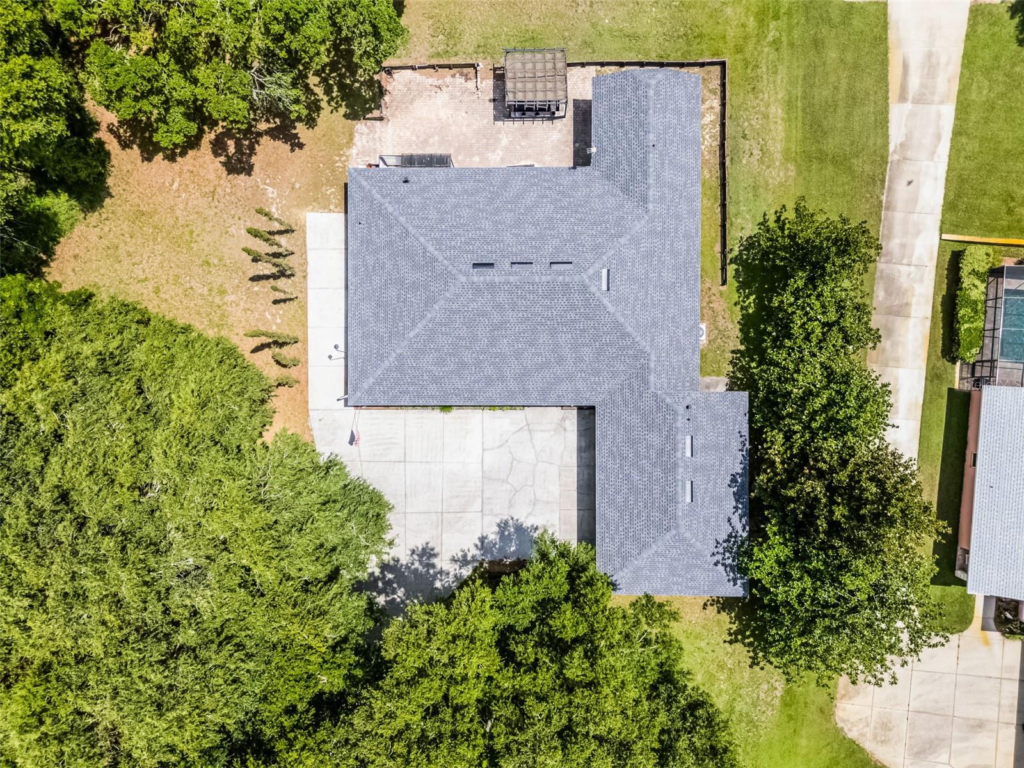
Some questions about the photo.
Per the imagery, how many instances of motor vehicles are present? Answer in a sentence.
There are no motor vehicles in this view.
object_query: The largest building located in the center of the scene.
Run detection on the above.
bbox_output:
[340,67,750,598]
